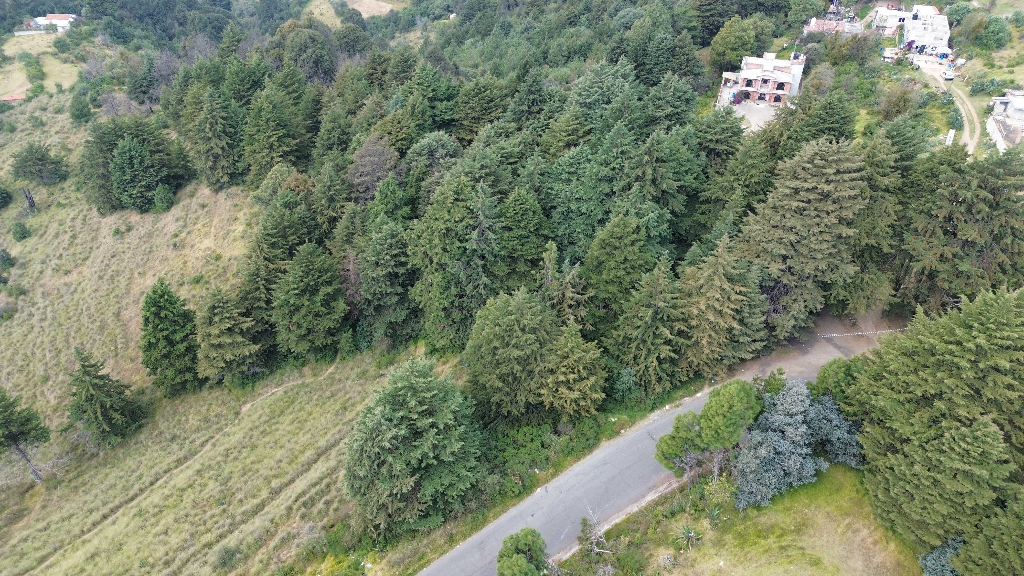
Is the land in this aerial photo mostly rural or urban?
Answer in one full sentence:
This place is rural.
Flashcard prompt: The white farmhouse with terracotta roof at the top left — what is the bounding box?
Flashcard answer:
[30,10,78,30]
